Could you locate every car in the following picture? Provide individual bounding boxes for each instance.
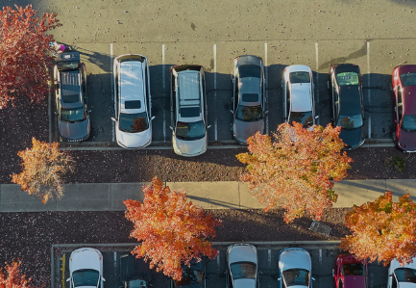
[224,243,263,288]
[331,252,370,288]
[282,64,319,150]
[230,54,269,146]
[65,246,106,288]
[277,246,317,288]
[112,53,154,149]
[53,49,94,143]
[327,62,370,151]
[168,64,210,158]
[167,248,211,288]
[390,63,416,154]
